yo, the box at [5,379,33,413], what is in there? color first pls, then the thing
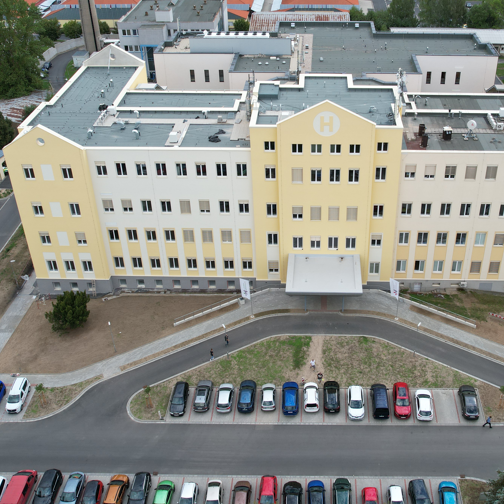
white car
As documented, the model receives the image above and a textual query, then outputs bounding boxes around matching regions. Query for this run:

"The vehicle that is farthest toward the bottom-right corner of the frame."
[440,483,463,504]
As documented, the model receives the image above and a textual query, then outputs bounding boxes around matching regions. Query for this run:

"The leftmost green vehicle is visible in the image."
[152,481,175,504]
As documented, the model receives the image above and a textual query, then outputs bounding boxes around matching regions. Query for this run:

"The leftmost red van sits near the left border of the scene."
[1,471,37,504]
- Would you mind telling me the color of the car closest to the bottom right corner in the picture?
blue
